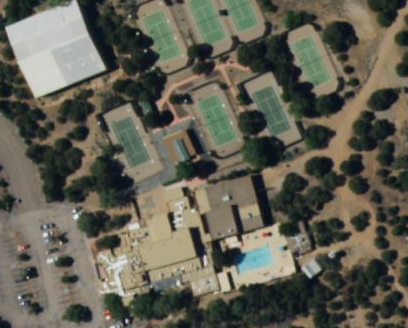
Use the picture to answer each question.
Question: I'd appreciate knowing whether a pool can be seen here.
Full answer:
Yes, I can see a pool in this picture.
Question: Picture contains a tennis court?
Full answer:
Yes, a tennis court appears in the view.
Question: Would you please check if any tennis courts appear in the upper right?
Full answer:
Yes, looking in the upper right, one can make out a tennis court.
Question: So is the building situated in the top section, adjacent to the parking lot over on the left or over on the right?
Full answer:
The building situated in the top section, adjacent to the parking lot is on the left side of the image.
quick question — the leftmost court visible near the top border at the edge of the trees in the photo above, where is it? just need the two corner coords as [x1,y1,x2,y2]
[136,0,188,72]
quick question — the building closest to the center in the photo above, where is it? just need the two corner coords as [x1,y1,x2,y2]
[162,130,198,163]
